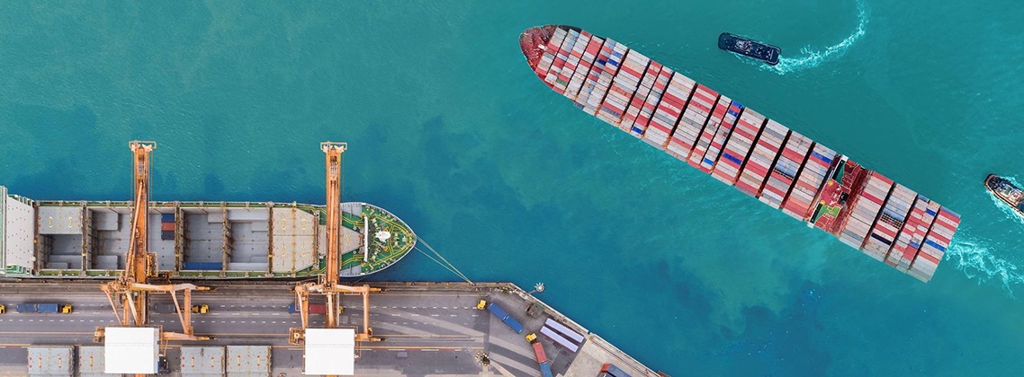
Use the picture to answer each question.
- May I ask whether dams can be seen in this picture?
No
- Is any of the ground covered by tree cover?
No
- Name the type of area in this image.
port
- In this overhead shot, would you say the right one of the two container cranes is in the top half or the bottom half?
bottom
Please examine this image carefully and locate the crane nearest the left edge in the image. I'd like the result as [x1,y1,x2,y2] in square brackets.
[93,141,226,377]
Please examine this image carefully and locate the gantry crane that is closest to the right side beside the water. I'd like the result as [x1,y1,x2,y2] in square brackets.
[277,141,400,377]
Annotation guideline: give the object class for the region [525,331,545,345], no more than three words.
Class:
vehicle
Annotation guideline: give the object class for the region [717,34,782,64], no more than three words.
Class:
boat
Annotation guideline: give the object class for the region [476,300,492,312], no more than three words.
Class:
vehicle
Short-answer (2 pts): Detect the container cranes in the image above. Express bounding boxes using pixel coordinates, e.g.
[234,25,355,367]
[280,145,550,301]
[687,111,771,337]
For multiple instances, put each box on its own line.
[277,141,400,377]
[93,141,226,377]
